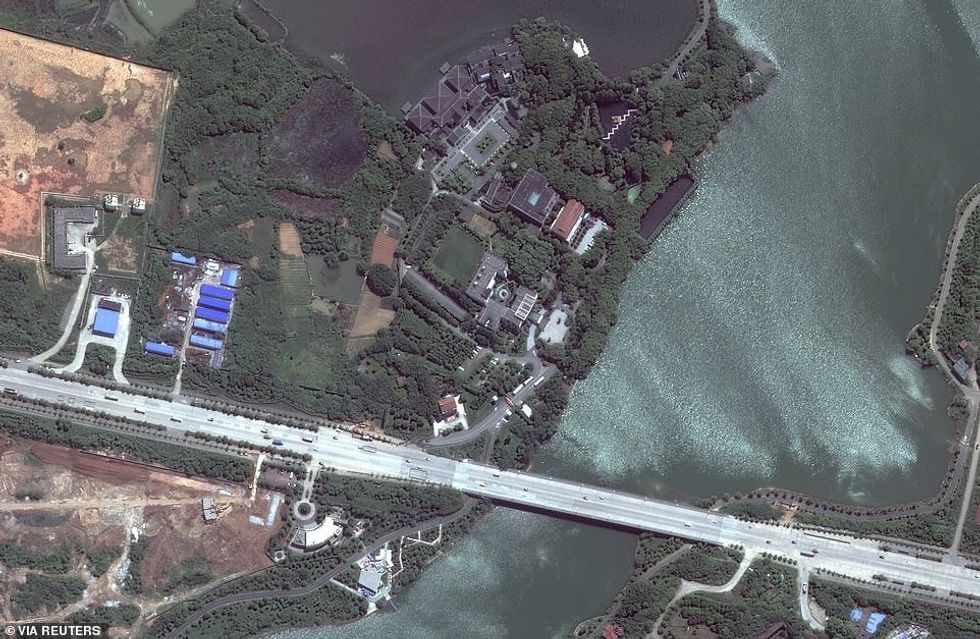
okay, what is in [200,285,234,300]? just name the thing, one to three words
shed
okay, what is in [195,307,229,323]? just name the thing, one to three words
shed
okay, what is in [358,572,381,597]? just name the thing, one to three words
building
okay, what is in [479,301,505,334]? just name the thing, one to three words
building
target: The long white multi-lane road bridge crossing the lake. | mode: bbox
[455,454,724,547]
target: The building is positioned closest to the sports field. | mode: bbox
[466,253,506,306]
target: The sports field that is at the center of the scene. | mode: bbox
[430,224,485,285]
